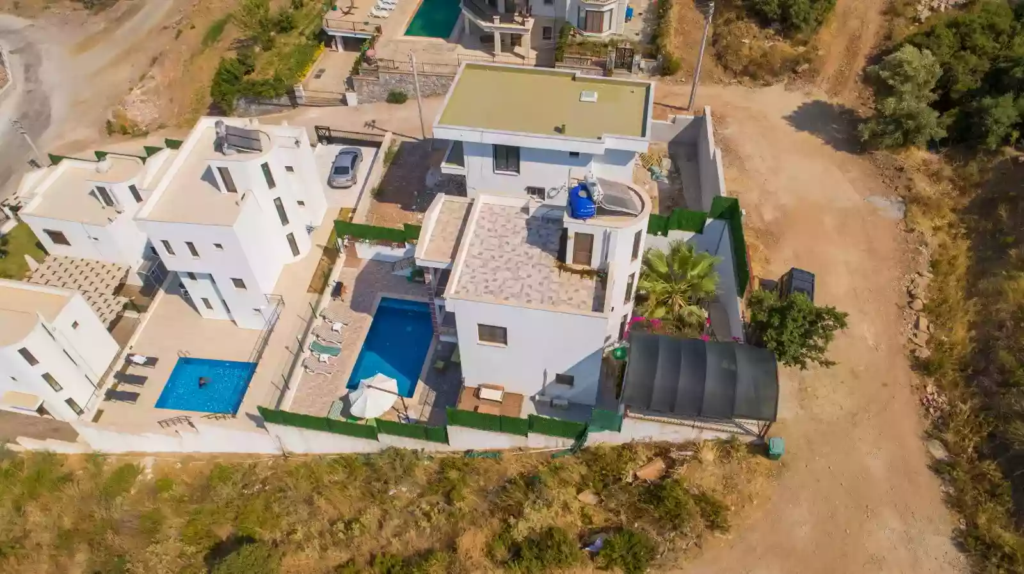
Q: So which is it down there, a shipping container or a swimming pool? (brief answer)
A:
swimming pool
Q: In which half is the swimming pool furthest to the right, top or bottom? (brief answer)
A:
top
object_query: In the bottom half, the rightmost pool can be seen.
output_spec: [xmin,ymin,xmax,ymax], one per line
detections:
[341,292,436,403]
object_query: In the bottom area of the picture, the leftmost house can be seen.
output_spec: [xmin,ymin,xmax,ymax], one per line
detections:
[0,273,121,419]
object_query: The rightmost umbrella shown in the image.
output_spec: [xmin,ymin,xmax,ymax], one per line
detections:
[350,376,414,425]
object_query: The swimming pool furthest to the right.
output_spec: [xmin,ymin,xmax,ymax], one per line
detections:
[409,0,472,40]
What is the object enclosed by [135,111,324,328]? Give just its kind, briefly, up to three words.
house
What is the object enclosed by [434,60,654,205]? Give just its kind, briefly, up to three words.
house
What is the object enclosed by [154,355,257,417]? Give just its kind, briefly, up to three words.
swimming pool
